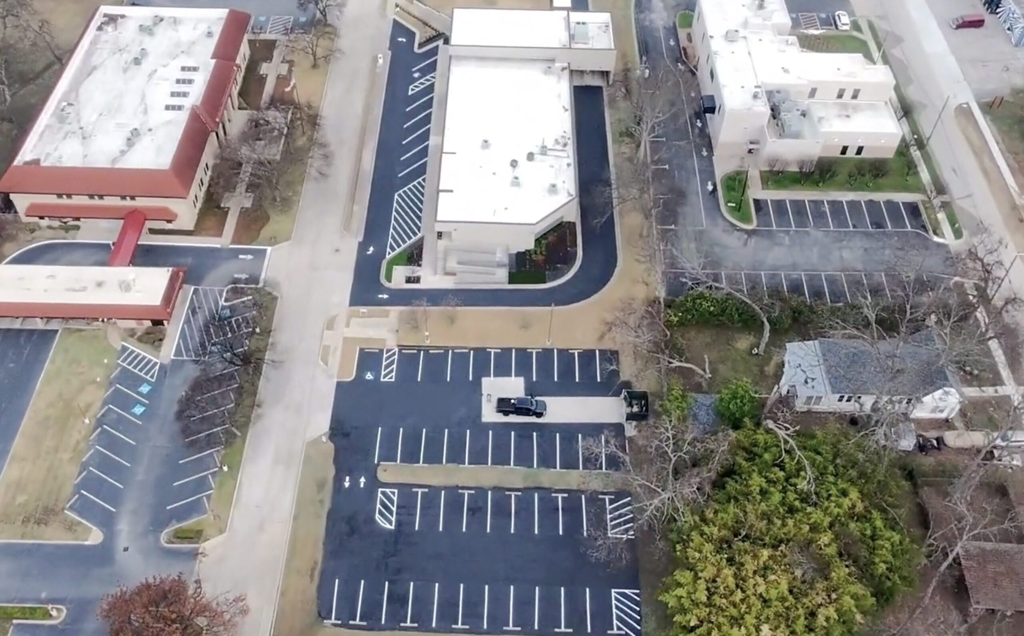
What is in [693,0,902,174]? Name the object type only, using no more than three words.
building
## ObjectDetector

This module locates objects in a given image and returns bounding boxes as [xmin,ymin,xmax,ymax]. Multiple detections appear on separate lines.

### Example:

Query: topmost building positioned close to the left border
[0,4,249,227]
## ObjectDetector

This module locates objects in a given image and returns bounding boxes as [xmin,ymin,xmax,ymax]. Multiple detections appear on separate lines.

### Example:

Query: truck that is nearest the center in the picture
[496,397,547,419]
